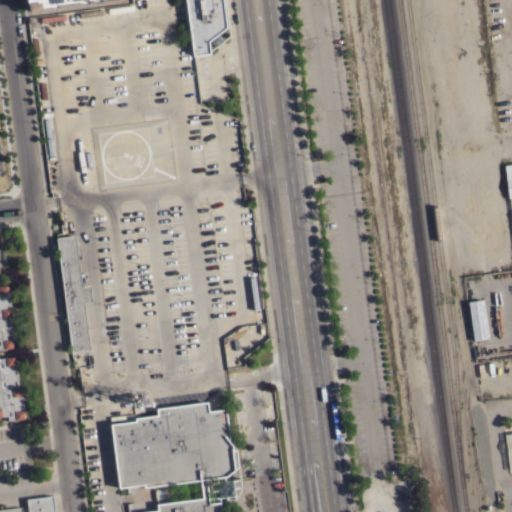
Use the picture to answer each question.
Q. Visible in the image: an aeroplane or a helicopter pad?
helicopter pad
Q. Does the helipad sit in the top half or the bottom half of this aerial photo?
top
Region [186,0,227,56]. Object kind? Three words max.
building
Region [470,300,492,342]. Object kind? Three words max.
building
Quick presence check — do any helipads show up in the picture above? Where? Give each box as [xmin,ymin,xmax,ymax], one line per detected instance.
[92,119,176,191]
